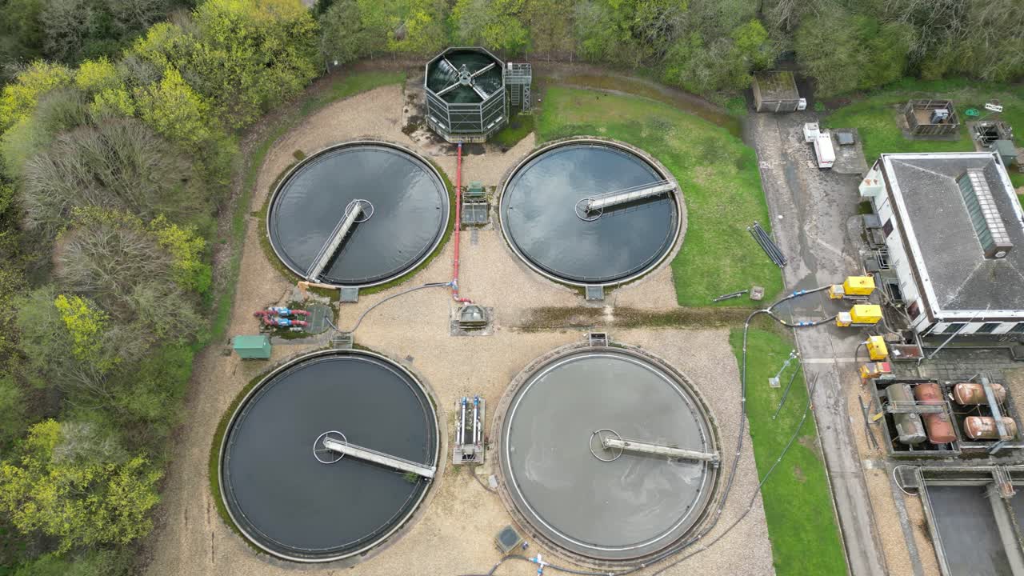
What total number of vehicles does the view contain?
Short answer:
2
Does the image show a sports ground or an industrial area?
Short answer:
industrial area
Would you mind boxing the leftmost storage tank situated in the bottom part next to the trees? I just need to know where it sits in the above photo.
[218,330,440,564]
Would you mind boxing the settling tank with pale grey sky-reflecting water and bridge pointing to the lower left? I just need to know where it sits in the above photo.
[267,141,451,302]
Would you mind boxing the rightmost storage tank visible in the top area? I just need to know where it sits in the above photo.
[498,138,682,300]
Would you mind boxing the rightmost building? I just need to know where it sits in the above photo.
[863,152,1024,346]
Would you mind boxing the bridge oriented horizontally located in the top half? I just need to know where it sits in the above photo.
[585,174,682,212]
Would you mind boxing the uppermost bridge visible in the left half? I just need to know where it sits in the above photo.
[305,194,365,284]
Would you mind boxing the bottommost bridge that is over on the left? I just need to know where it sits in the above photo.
[318,434,437,487]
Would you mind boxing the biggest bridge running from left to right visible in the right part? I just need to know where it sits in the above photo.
[602,432,726,474]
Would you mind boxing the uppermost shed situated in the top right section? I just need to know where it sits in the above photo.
[754,68,803,112]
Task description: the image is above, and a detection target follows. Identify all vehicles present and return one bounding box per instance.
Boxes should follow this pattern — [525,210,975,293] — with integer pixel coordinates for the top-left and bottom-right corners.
[800,118,826,148]
[812,134,842,173]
